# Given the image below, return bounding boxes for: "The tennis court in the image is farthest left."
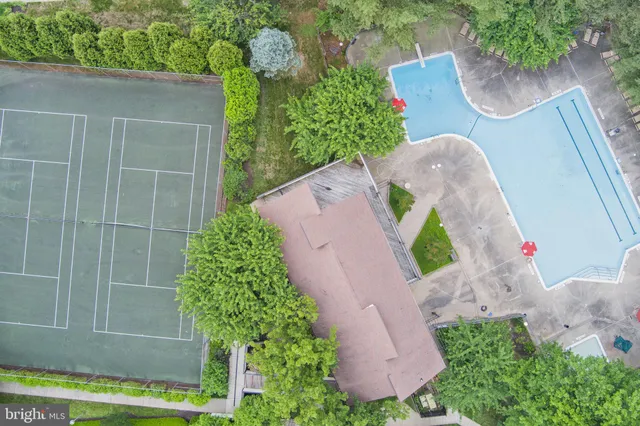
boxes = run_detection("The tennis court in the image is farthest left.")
[0,67,103,372]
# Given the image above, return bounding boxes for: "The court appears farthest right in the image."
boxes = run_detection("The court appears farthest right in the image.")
[78,75,226,384]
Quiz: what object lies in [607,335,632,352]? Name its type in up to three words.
umbrella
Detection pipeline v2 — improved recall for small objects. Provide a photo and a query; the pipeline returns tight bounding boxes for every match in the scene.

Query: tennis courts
[0,67,103,372]
[78,75,226,384]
